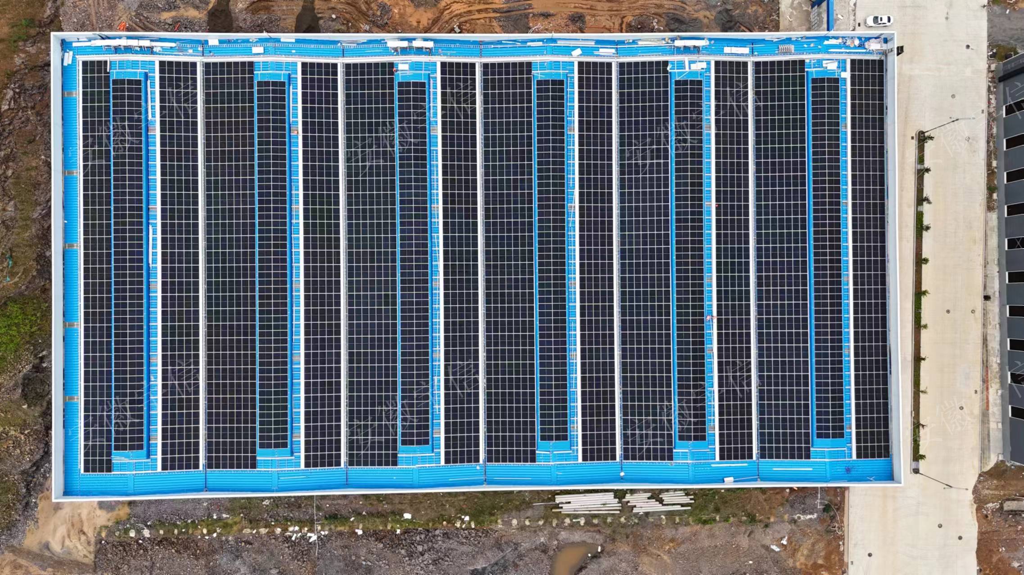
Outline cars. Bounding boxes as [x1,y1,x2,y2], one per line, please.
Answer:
[864,14,893,28]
